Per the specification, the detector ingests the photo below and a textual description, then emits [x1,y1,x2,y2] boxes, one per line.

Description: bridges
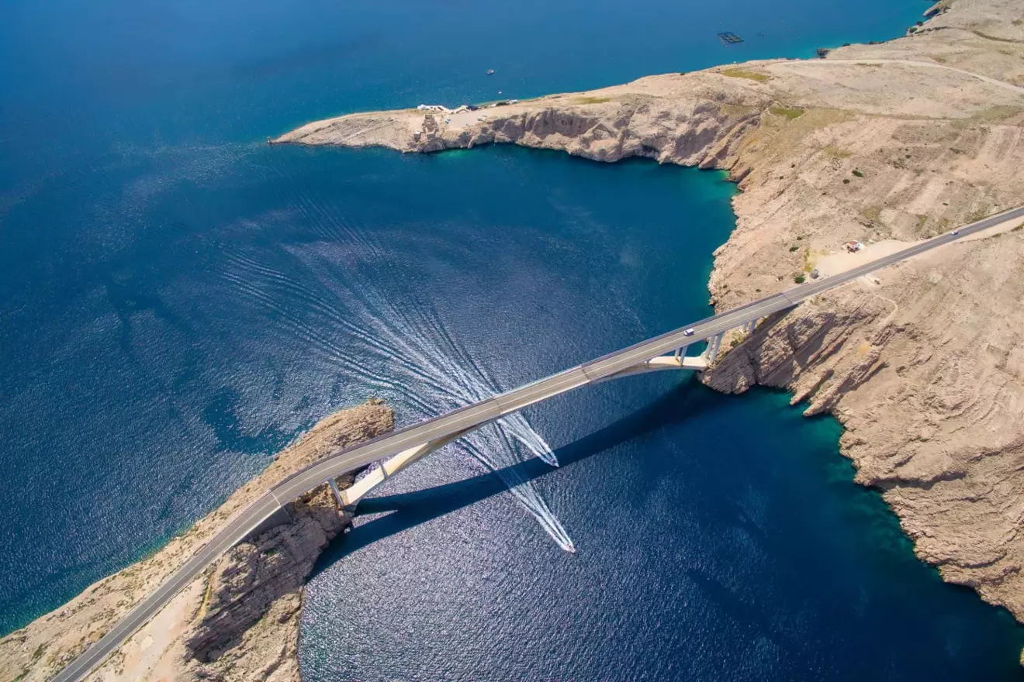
[189,283,817,582]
